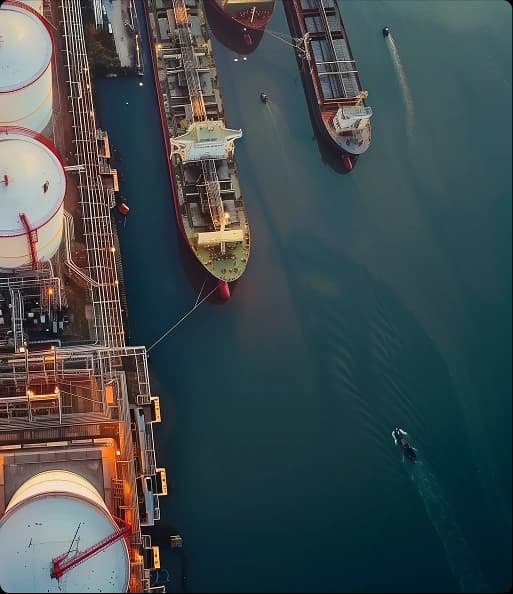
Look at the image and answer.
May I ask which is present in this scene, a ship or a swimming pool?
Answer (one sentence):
Looking from above, you can make out a ship.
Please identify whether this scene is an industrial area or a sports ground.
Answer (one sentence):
The area seen from above is an industrial area.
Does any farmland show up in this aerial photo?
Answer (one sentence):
No, no farmland is visible.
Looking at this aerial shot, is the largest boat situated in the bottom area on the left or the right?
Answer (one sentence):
You can find the largest boat situated in the bottom area on the right side of the picture.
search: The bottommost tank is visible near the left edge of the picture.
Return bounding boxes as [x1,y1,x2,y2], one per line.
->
[0,470,134,594]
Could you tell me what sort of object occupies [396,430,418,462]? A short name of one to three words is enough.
boat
